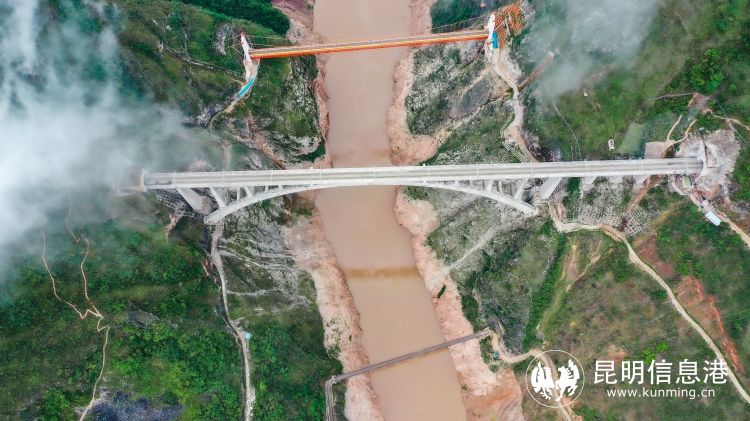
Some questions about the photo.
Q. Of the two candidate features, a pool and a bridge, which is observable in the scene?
bridge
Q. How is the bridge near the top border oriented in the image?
from side to side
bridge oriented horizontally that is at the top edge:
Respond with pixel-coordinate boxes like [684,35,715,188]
[218,4,514,76]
